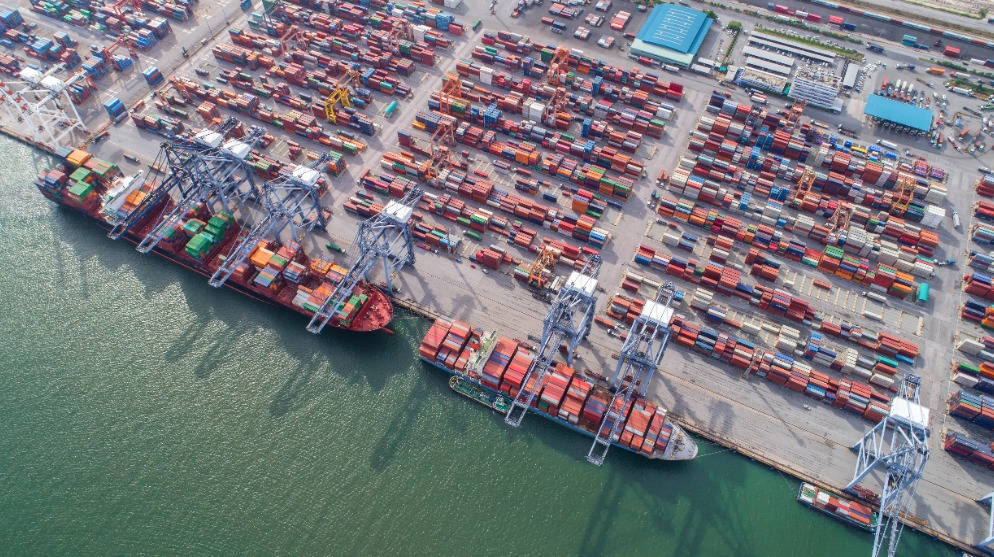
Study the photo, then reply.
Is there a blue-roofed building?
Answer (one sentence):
Yes, the image includes a blue-roofed building.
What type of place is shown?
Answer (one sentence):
What you see here is a port.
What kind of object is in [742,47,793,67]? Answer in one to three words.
shed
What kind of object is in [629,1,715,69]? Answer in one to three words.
building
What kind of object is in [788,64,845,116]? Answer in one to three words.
building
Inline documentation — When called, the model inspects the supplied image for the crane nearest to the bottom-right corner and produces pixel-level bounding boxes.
[967,489,994,555]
